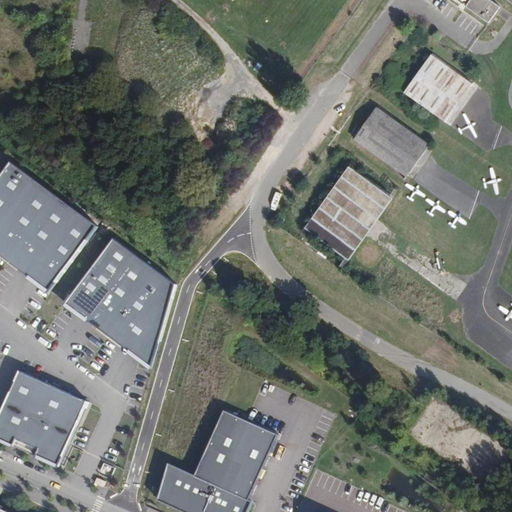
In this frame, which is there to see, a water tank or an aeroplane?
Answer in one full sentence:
The image shows an aeroplane.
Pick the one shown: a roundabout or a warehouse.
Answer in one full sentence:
Of the two, only a warehouse appears.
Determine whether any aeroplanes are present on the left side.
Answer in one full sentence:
No, no aeroplane is visible on the left side.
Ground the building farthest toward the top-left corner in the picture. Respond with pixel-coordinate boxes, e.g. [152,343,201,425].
[0,162,98,294]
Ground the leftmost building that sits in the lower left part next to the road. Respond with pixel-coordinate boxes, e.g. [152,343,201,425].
[0,372,88,468]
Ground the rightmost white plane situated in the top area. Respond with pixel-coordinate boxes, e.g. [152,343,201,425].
[482,166,502,194]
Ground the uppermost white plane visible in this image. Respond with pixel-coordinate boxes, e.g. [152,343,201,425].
[458,113,478,137]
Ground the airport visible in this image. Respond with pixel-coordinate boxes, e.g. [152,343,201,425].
[369,84,512,370]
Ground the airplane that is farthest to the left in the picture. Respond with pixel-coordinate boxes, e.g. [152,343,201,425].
[404,183,426,202]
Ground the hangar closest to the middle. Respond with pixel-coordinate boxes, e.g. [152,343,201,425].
[305,167,392,262]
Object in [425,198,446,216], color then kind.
white airplane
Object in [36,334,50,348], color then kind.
white vehicle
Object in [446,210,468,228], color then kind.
white airplane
